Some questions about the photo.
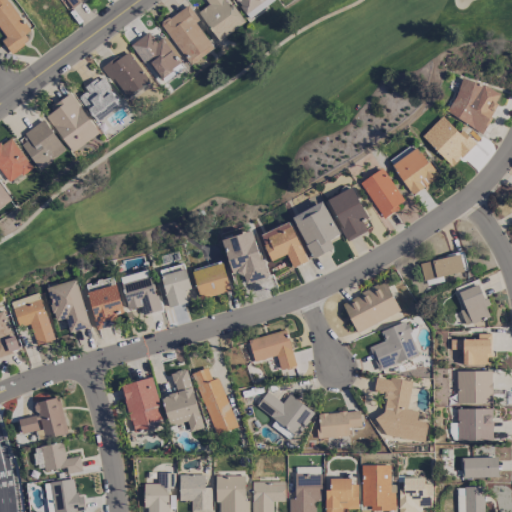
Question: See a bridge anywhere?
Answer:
No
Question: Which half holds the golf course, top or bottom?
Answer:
top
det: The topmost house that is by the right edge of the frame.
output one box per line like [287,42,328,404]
[450,77,504,133]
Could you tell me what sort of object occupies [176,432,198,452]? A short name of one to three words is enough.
swimming pool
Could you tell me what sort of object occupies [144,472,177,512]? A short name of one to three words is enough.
house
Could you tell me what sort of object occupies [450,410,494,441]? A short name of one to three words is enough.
house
